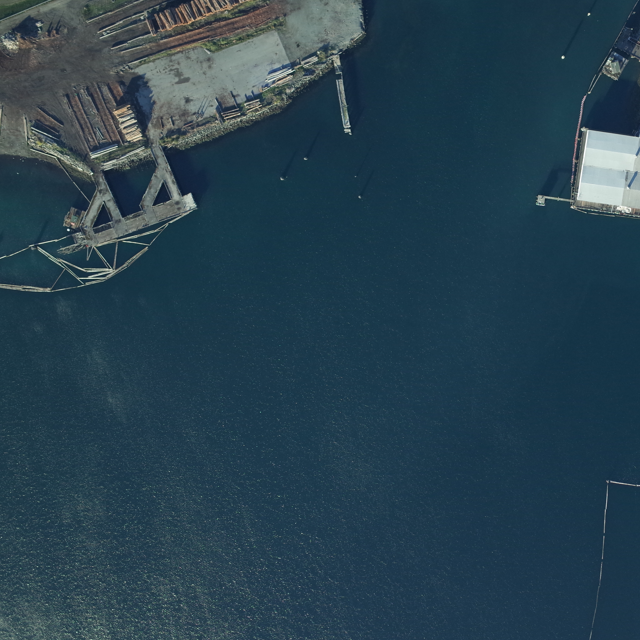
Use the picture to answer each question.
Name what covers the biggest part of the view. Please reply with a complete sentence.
The largest share of the image is taken up by water.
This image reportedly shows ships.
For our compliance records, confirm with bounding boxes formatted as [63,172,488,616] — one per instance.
[63,207,85,229]
[601,52,629,80]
